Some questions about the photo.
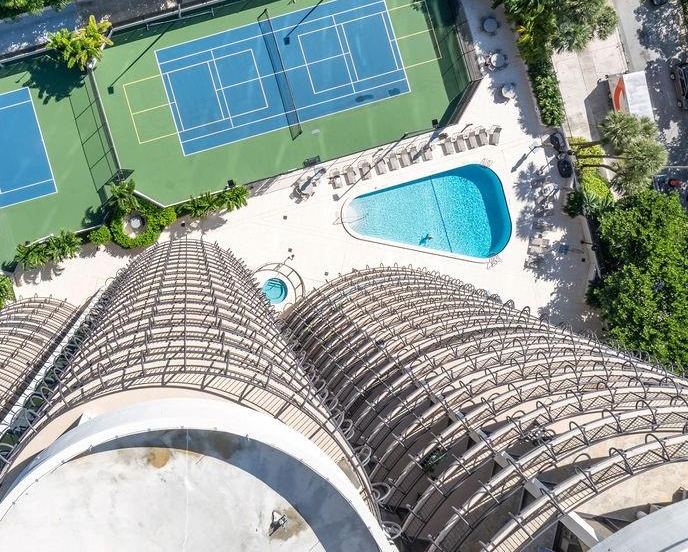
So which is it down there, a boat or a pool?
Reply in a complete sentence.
There is a pool in the scene.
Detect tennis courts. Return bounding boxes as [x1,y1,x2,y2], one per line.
[92,0,481,206]
[0,44,123,277]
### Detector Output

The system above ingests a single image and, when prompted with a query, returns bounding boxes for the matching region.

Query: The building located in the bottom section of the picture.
[0,231,688,552]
